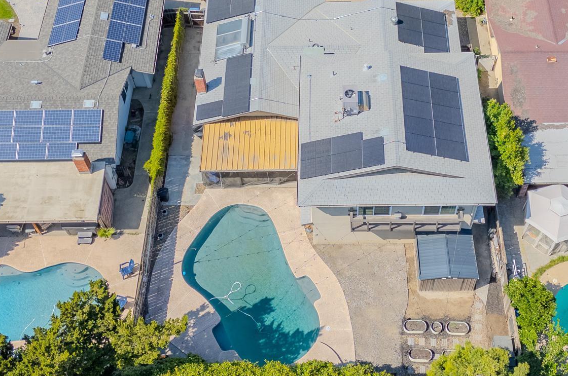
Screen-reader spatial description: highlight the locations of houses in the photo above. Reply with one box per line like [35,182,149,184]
[0,0,167,242]
[485,0,568,204]
[188,0,498,244]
